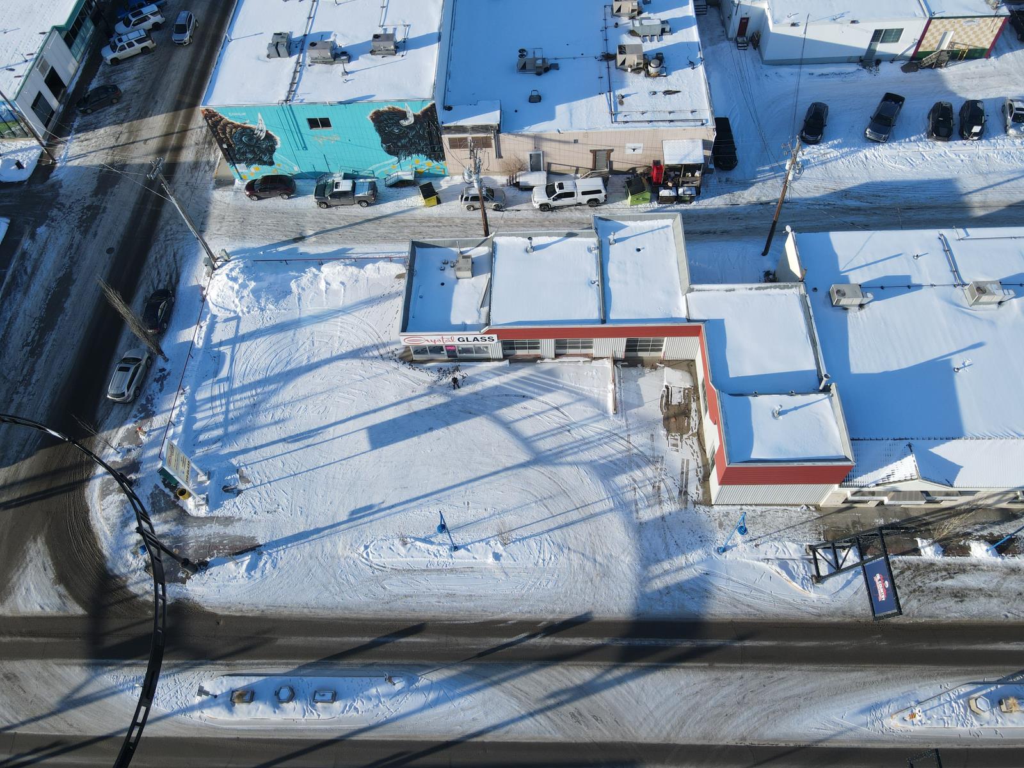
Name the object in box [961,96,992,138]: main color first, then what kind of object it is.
black car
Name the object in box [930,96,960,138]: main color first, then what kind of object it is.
black car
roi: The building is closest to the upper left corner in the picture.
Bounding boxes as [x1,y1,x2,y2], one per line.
[0,0,114,144]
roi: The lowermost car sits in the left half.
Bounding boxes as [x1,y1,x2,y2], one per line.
[105,346,150,402]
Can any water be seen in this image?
No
